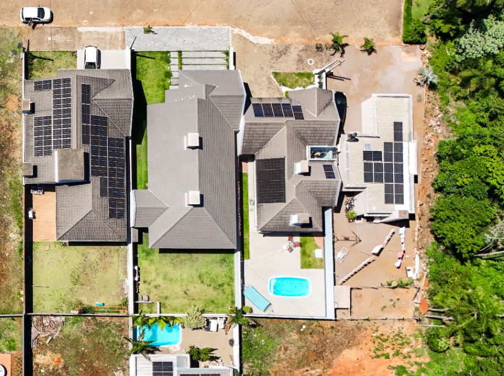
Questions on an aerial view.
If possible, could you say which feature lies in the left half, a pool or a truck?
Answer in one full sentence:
What appears in the left half is a pool.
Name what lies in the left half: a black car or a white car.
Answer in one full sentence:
What appears in the left half is a white car.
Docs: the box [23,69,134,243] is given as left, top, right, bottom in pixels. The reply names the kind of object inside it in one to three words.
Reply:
house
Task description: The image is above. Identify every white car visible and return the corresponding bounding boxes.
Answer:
[82,40,100,69]
[20,6,51,30]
